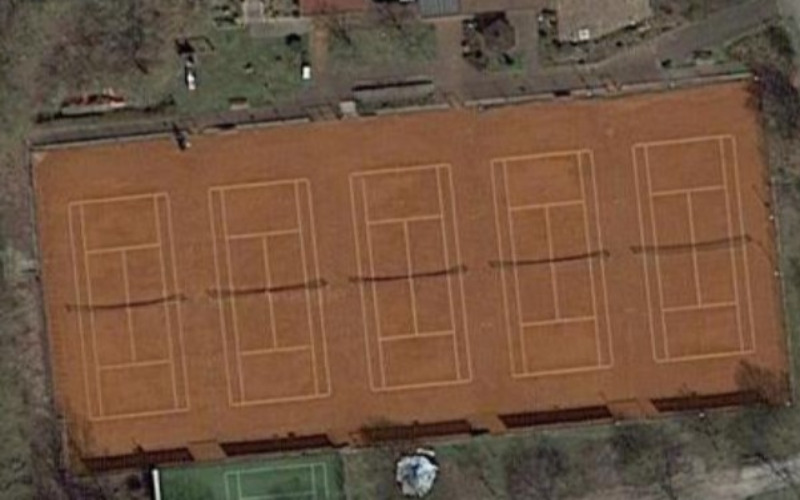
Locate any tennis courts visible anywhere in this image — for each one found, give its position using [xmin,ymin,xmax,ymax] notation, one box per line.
[344,158,477,397]
[203,172,336,412]
[627,129,760,368]
[62,186,195,426]
[486,143,618,383]
[160,457,347,500]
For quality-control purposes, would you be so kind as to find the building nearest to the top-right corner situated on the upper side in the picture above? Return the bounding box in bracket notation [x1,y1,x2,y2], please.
[555,0,653,43]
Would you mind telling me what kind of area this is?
sports ground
